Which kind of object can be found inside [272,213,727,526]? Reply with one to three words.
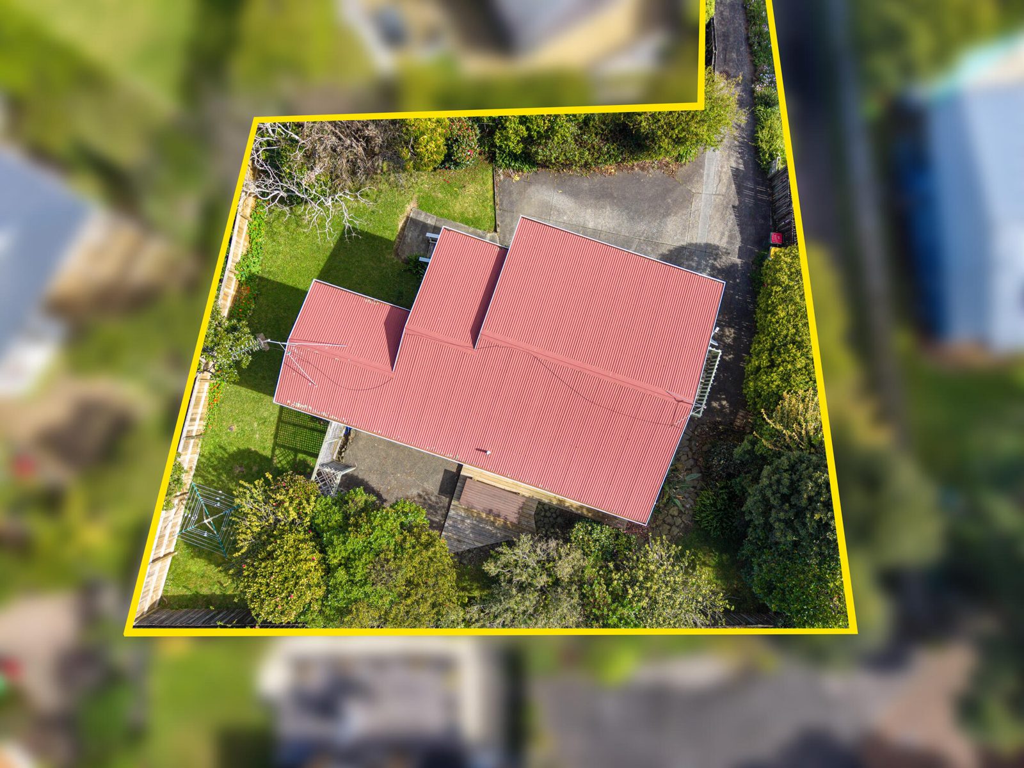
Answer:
house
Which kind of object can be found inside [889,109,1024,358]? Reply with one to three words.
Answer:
house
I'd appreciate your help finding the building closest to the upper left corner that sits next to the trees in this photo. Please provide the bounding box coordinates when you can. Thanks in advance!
[0,152,121,363]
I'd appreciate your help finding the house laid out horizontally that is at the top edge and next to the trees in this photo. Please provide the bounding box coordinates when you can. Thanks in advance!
[466,0,664,80]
